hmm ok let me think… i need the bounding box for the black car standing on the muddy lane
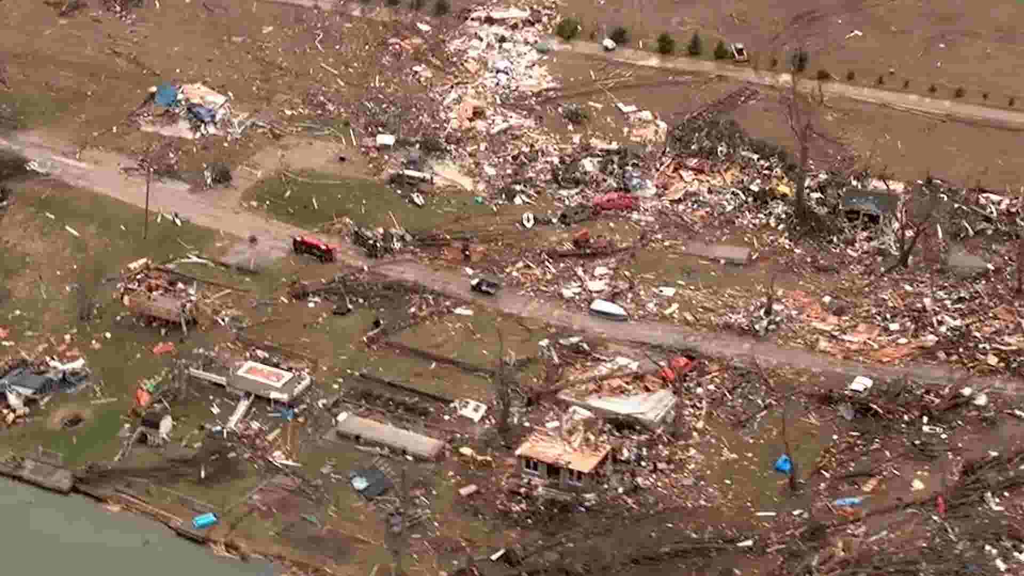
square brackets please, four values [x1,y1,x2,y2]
[469,278,502,297]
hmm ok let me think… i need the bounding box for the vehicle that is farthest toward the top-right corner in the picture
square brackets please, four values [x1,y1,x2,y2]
[729,44,751,62]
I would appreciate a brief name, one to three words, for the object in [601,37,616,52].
car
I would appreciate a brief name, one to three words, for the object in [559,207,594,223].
car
